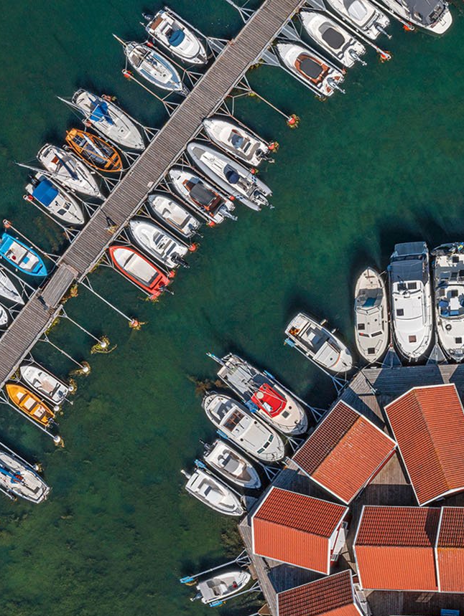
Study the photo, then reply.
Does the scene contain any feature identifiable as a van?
No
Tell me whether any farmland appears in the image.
No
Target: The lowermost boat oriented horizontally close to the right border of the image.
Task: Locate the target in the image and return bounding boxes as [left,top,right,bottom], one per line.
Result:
[436,231,464,243]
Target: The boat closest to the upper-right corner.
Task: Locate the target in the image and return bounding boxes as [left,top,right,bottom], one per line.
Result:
[371,0,464,50]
